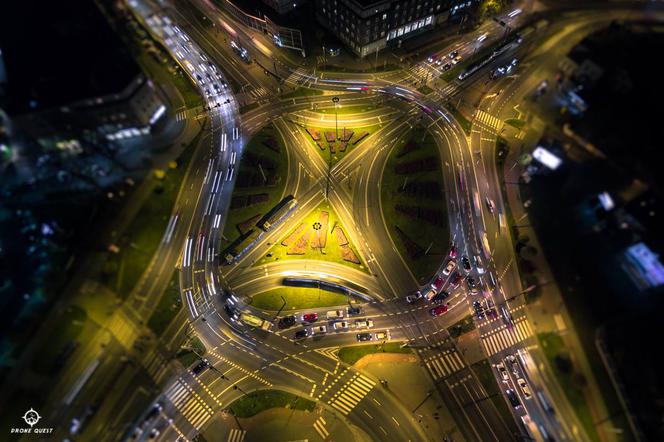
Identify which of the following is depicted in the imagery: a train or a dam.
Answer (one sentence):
It is a train that can be seen here.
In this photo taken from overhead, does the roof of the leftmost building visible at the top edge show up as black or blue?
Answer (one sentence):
In this view, the roof of the leftmost building visible at the top edge is black.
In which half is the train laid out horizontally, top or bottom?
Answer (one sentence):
It is in the bottom half that the train laid out horizontally appears.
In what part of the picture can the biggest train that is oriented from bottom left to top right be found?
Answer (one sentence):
Look in the center portion of the view to spot the biggest train that is oriented from bottom left to top right.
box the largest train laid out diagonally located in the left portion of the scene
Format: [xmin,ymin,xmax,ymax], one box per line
[227,194,300,264]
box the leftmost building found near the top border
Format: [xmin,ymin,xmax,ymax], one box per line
[0,0,164,164]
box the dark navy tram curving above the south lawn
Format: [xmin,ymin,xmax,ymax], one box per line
[282,275,371,301]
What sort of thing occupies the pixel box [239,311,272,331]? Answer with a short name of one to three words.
vehicle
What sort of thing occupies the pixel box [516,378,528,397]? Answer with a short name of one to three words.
vehicle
